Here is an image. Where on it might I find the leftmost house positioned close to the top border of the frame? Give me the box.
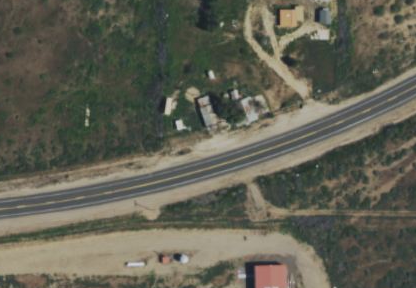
[280,6,304,26]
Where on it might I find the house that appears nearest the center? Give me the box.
[196,96,219,126]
